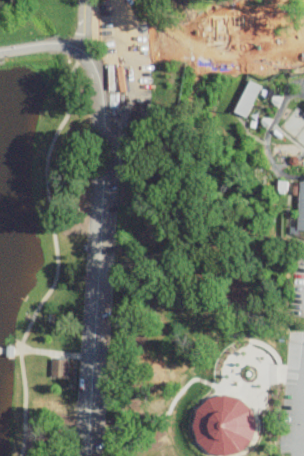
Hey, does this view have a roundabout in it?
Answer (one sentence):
No, the frame has no roundabout in it.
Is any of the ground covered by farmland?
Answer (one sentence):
No, the picture contains no farmland.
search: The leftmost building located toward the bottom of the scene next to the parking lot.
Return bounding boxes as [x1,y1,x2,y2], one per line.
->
[193,395,260,456]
